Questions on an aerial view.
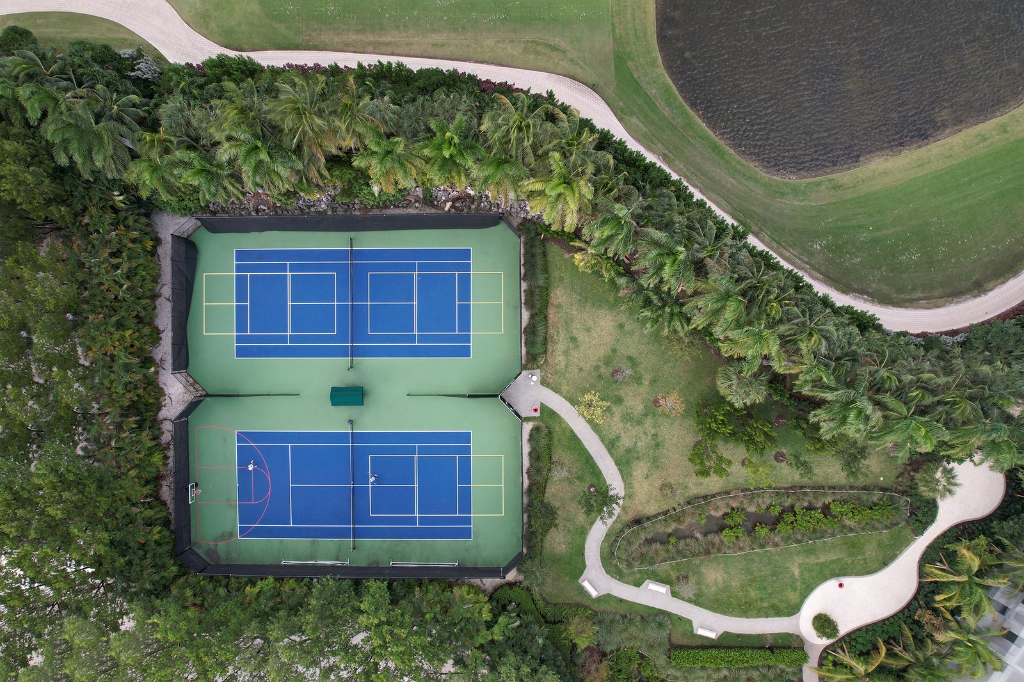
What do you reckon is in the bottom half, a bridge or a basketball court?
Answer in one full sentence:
The feature located in the bottom half is a basketball court.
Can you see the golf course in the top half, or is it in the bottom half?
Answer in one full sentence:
The golf course sits in the top half of the picture.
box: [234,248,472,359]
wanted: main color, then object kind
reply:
blue tennis court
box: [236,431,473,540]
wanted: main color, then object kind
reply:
blue tennis court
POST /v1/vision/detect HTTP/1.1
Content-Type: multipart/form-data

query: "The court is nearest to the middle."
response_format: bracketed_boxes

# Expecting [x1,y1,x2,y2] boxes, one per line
[368,272,503,334]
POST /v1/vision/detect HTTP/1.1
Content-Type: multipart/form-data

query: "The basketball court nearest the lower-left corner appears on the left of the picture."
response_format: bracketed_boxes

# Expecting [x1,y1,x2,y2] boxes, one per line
[196,426,272,545]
